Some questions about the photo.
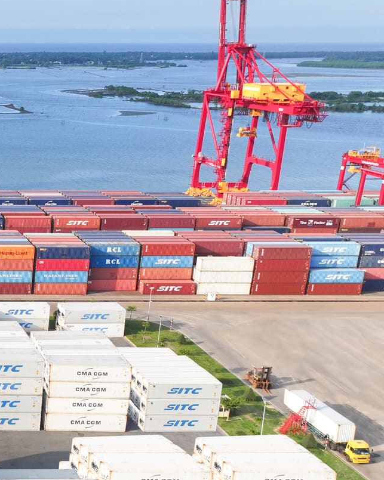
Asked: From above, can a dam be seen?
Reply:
No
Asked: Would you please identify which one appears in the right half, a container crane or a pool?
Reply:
container crane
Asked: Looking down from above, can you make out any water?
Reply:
Yes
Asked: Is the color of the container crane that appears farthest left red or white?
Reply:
red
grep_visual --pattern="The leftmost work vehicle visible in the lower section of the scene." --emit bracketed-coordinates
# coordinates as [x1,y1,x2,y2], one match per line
[242,364,278,392]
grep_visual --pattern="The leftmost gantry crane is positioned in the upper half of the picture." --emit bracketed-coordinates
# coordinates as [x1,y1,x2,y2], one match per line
[185,0,334,205]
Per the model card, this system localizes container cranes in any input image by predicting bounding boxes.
[340,148,384,206]
[185,0,334,205]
